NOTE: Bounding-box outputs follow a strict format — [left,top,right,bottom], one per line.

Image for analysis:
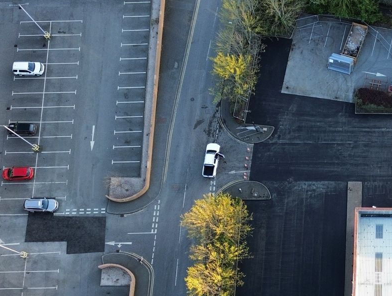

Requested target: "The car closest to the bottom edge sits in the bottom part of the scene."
[21,197,60,212]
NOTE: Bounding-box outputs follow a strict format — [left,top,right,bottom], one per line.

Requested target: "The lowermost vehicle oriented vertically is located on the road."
[202,143,220,178]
